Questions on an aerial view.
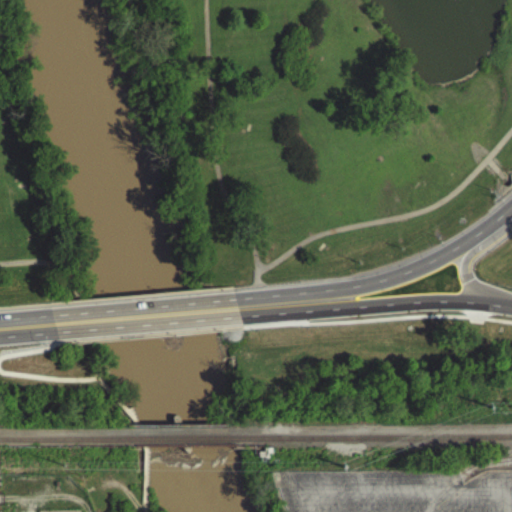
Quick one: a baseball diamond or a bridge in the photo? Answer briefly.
bridge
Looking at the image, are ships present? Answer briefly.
No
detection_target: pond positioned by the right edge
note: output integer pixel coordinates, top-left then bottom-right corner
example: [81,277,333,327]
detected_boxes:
[376,0,503,86]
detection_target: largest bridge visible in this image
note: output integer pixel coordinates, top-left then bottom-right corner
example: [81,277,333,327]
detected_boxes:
[52,288,244,346]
